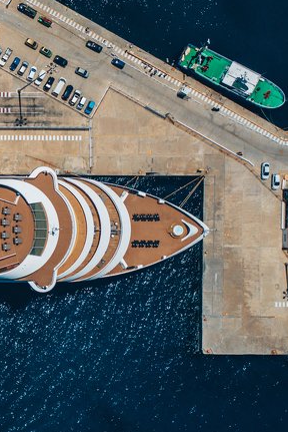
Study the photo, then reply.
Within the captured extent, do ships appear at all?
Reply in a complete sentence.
Yes, the image includes a ship.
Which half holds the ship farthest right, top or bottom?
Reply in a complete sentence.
You can find the ship farthest right in the top half.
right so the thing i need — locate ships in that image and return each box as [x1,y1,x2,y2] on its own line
[0,166,209,292]
[176,40,285,108]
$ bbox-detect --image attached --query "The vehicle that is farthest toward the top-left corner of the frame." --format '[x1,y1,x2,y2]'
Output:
[17,1,39,19]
